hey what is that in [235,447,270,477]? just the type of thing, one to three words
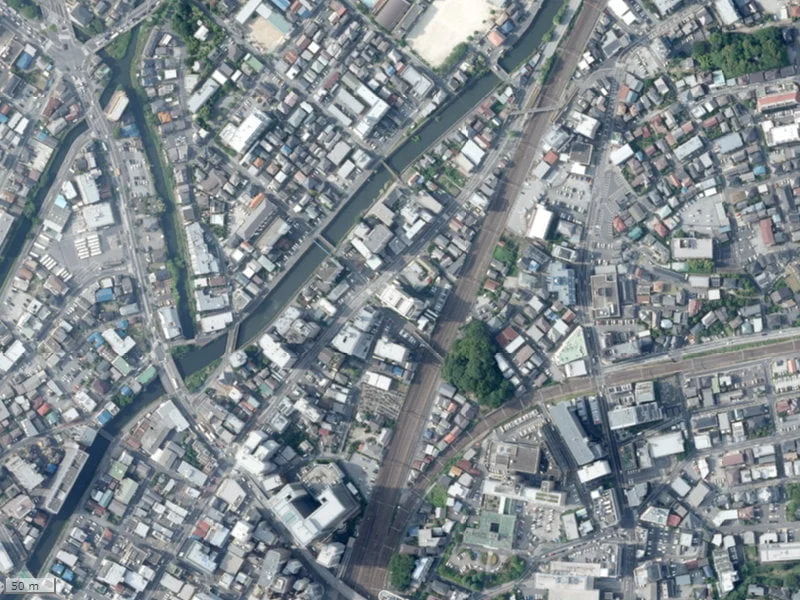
building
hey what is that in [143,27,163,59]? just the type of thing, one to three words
building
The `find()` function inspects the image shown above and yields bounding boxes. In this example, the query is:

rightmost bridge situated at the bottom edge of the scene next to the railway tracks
[317,563,370,600]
